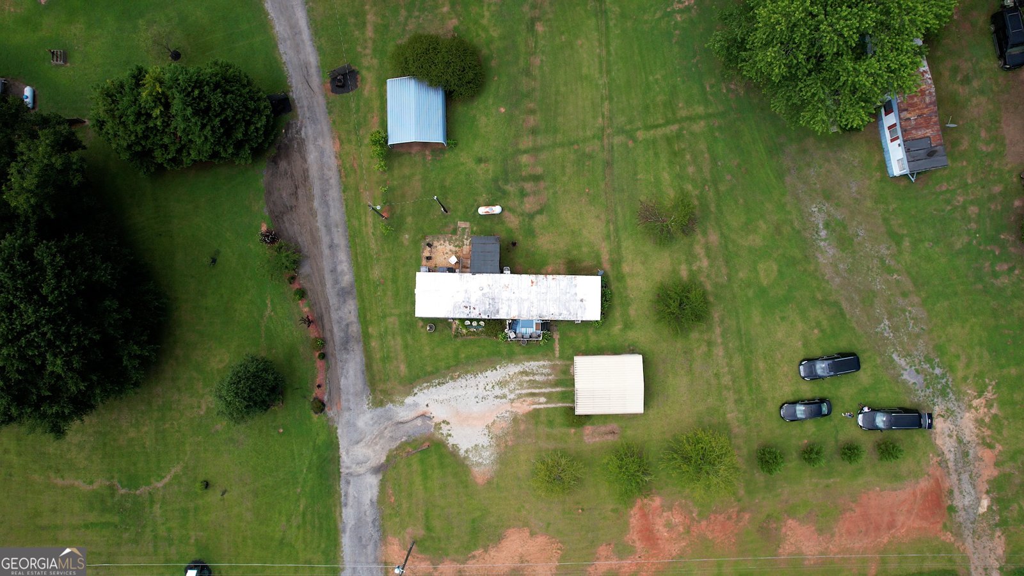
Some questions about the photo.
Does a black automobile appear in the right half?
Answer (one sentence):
Yes, you'll find a black automobile in the right half.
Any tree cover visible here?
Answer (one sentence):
Yes, there's tree cover in this view.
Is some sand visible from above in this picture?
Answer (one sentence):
No, there is no sand in the image.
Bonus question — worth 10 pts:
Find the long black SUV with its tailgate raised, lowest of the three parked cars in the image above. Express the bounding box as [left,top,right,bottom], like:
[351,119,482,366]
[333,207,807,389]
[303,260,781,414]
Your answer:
[855,407,934,434]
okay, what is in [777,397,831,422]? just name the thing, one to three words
car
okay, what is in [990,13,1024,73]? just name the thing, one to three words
car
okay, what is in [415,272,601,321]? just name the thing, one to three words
house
